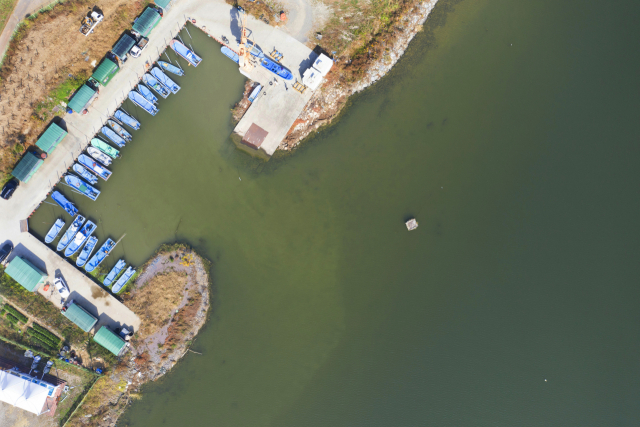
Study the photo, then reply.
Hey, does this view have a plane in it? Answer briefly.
No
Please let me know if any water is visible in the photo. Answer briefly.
Yes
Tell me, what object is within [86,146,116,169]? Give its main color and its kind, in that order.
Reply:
white boat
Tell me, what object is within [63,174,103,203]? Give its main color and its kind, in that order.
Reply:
blue boat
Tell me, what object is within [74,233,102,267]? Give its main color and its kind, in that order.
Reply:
blue boat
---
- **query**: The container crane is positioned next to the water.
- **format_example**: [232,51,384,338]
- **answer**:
[236,11,256,81]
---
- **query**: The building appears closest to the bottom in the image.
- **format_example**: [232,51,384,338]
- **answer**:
[0,354,66,416]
